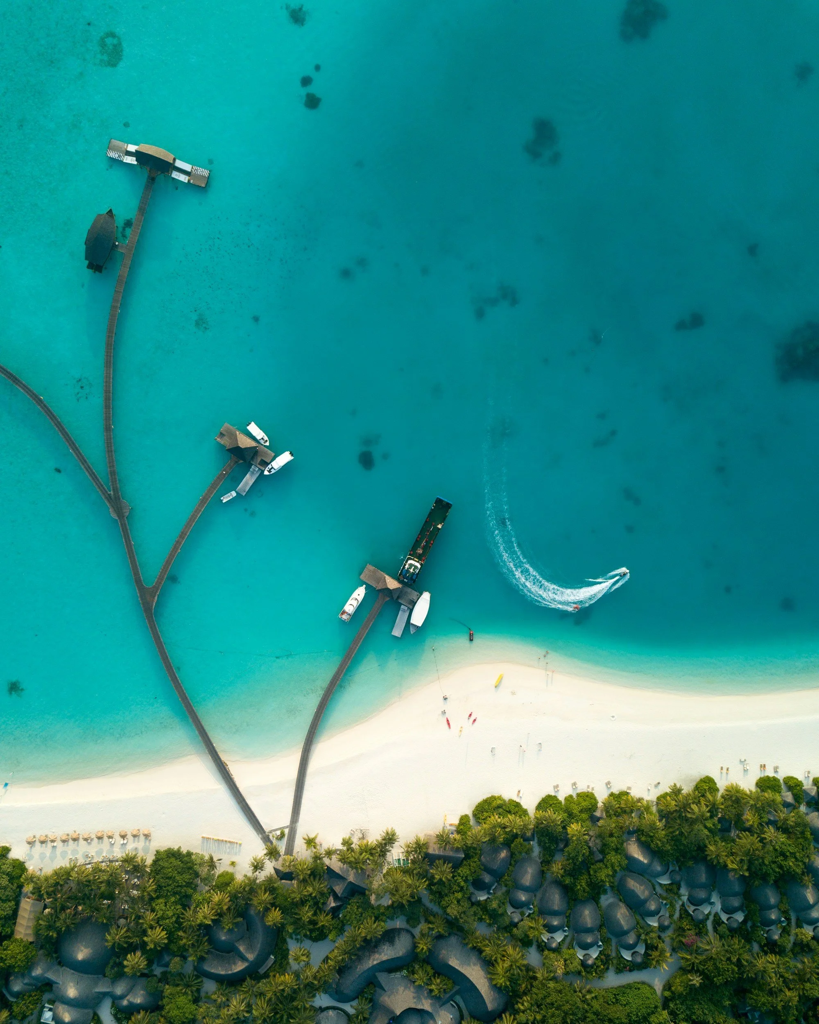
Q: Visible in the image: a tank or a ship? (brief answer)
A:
ship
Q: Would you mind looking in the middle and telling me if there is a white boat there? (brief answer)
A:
Yes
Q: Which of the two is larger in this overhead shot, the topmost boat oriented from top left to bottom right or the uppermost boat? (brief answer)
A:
the uppermost boat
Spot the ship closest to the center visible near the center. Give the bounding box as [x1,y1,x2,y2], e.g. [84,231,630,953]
[398,496,453,585]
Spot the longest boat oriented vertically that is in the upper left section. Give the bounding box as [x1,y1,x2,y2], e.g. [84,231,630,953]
[84,207,116,273]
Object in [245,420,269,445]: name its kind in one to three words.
boat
